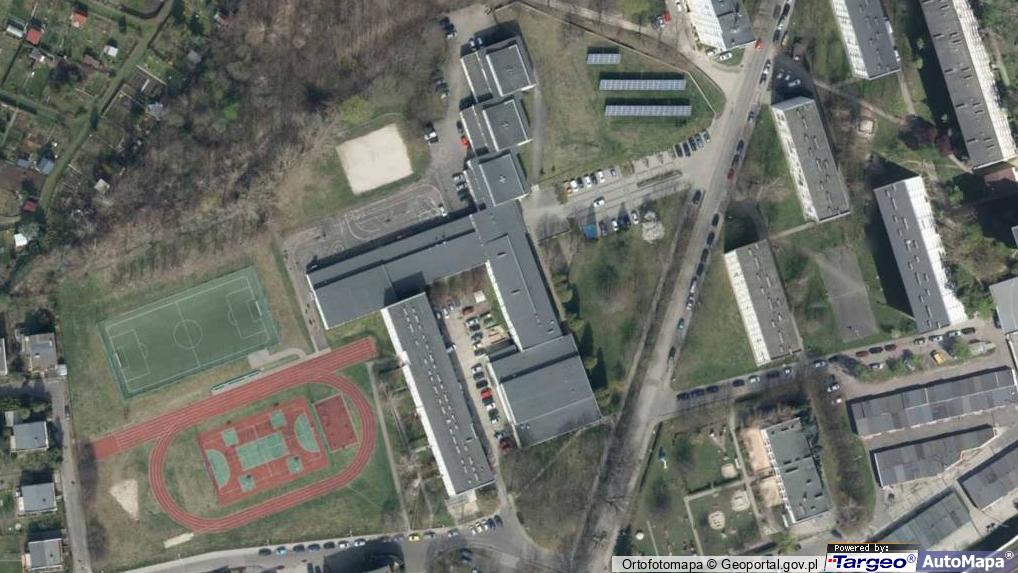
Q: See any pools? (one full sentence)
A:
No, the scene contains no pool.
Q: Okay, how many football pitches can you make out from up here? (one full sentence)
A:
Altogether the scene contains 1 football pitch.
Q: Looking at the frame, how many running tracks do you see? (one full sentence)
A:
The picture shows just 1 running track.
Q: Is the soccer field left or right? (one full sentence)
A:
It is on the left.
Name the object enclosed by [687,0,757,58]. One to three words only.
building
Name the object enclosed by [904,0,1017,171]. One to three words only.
building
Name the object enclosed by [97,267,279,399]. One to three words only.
soccer field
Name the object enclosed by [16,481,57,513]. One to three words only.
house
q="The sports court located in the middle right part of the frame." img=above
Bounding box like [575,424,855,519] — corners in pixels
[816,246,878,341]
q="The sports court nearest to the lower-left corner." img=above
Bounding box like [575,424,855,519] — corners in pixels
[199,397,328,505]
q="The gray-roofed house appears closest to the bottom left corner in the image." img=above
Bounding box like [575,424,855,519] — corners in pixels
[23,537,63,573]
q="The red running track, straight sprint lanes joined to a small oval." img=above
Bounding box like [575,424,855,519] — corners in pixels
[91,336,378,532]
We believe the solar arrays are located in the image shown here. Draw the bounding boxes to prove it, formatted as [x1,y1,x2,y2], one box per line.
[599,80,685,91]
[588,54,619,65]
[605,104,691,115]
